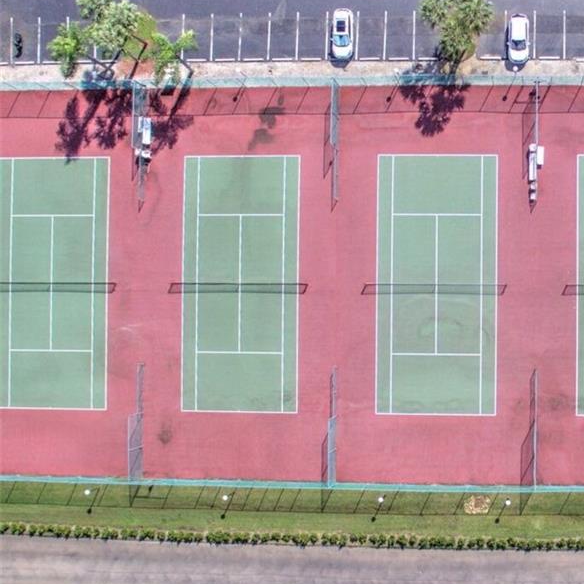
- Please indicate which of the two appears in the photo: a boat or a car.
car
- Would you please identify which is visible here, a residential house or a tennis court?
tennis court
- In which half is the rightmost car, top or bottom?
top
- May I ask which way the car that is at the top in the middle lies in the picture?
vertically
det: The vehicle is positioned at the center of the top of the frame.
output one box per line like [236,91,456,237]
[329,10,354,61]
